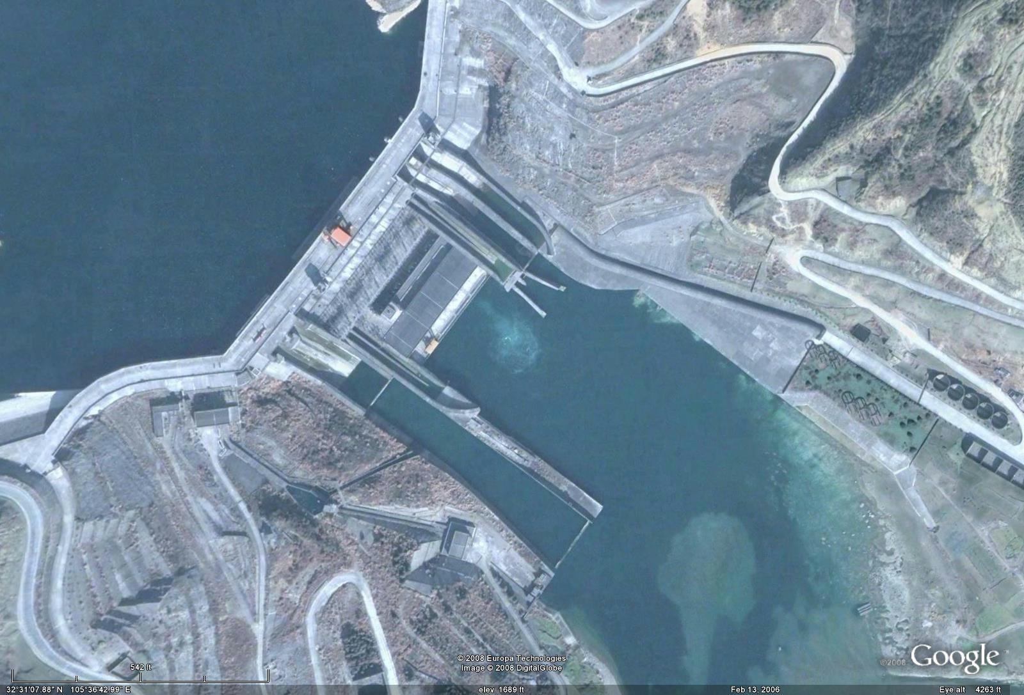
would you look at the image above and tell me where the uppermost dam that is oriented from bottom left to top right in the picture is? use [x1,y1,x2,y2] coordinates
[44,0,488,455]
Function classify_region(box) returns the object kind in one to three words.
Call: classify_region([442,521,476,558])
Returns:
house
